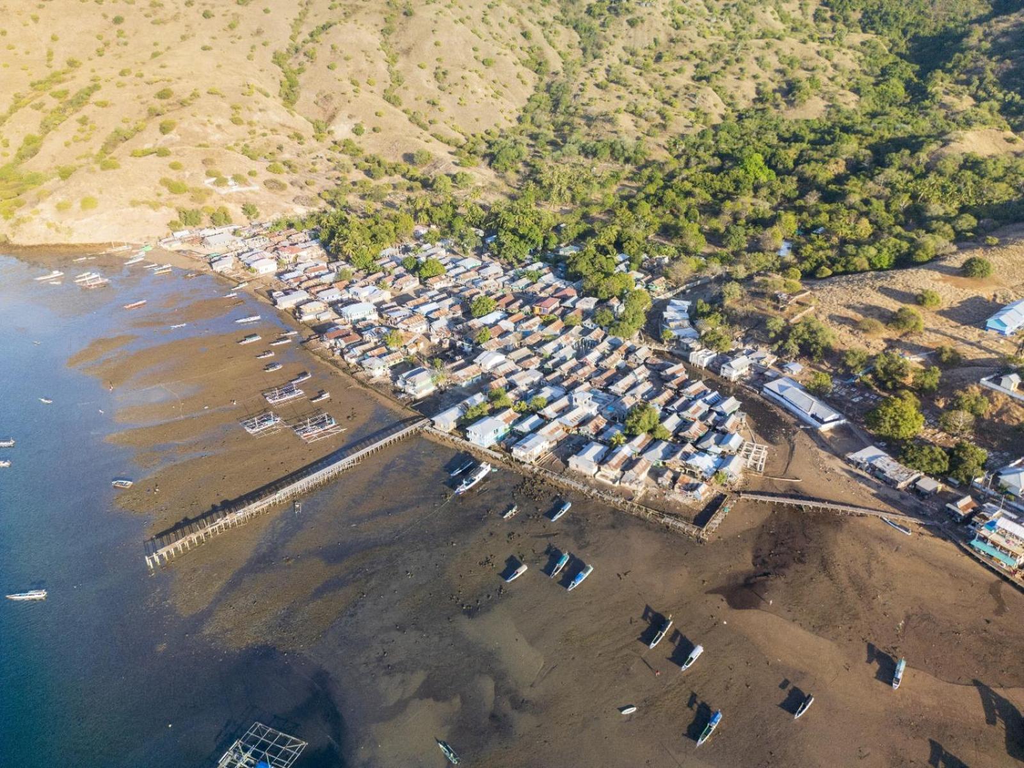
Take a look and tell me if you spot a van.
No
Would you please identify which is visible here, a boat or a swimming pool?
boat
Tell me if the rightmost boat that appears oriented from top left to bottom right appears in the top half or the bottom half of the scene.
bottom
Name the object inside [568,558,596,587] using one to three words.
boat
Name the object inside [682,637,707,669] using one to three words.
boat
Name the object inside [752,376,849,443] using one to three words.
building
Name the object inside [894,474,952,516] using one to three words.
house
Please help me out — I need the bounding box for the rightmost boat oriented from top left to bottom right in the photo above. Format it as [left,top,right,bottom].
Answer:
[883,512,912,534]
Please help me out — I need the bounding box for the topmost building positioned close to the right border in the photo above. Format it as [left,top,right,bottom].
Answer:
[978,290,1024,340]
